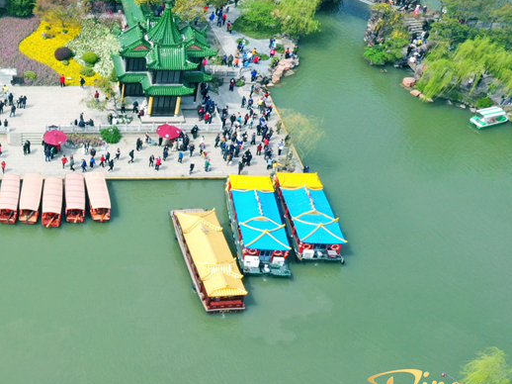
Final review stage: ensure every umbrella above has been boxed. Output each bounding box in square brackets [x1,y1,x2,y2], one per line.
[154,124,183,151]
[39,129,68,154]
